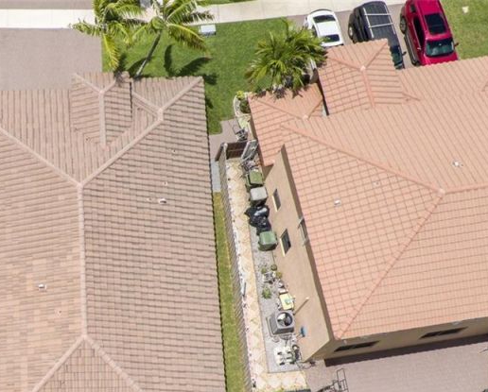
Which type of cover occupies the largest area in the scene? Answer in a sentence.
The largest share of the image is taken up by buildings.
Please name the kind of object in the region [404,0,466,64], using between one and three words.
car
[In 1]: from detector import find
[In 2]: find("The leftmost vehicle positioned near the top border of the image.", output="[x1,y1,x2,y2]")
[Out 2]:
[307,0,362,51]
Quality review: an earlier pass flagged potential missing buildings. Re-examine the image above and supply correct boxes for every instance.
[0,70,227,392]
[246,37,488,358]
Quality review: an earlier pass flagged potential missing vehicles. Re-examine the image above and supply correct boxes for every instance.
[307,0,362,51]
[404,0,466,64]
[357,0,421,68]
